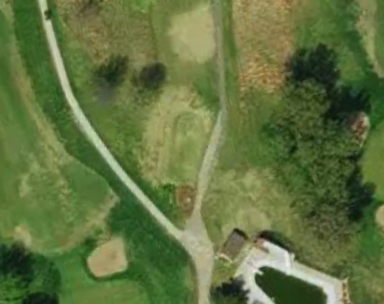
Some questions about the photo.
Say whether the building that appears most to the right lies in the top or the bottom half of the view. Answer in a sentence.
The bottom half of the photo is where the building that appears most to the right is.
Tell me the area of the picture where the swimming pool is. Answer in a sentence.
The swimming pool is located in the bottom right region of the scene.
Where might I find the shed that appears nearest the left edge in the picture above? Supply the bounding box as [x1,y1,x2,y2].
[222,230,249,260]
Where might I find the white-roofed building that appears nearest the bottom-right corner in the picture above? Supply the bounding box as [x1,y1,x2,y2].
[258,241,293,268]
